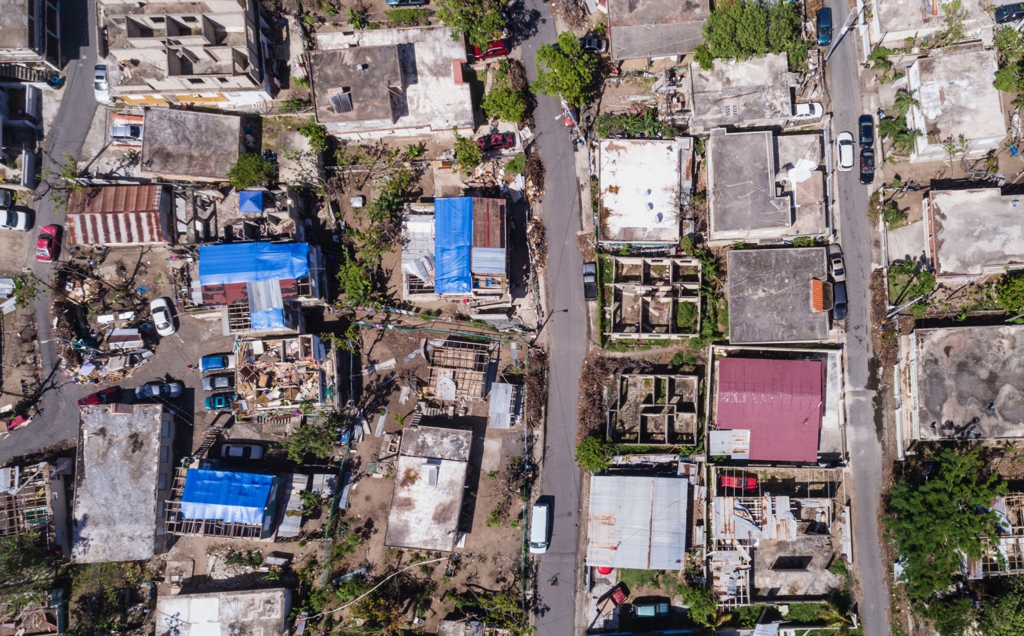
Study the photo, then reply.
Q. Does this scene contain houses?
Yes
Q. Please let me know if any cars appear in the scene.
Yes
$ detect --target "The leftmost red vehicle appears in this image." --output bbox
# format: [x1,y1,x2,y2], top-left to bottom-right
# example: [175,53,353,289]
[35,225,62,262]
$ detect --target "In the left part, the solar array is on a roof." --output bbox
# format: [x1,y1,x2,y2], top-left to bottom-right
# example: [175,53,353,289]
[331,93,352,114]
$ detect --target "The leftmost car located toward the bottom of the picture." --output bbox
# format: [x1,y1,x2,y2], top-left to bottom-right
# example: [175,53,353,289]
[78,385,121,407]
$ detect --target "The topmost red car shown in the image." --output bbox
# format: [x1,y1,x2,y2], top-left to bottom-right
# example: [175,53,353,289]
[473,40,509,59]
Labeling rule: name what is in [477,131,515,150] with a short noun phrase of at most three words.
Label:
car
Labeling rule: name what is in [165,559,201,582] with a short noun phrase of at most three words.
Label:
shed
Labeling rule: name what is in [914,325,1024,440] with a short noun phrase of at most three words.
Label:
house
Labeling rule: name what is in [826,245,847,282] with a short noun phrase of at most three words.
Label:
car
